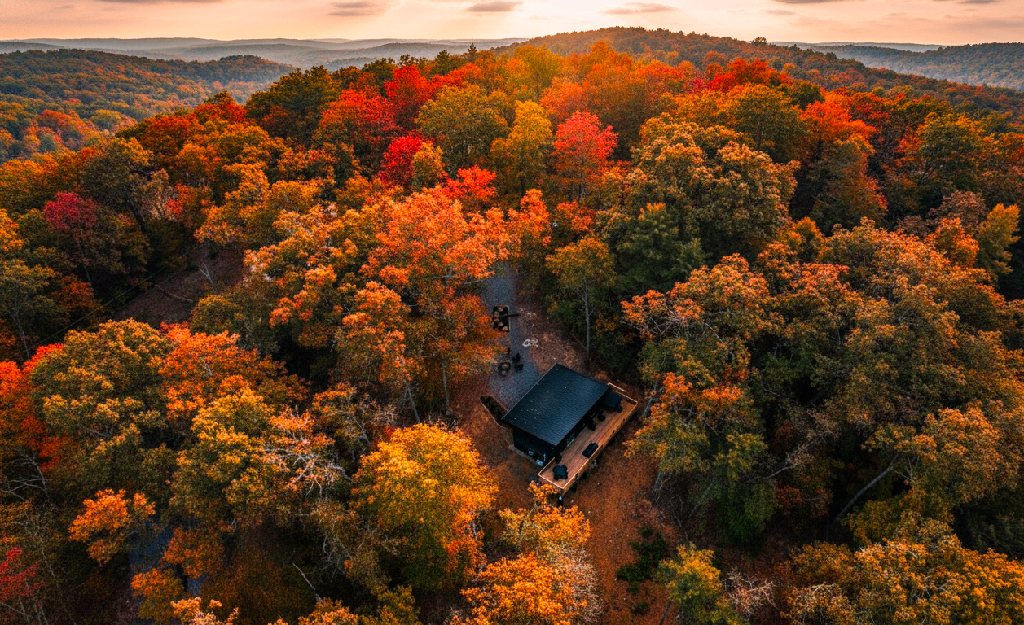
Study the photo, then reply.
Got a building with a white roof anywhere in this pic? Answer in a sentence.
No, no building with a white roof is visible in the scene.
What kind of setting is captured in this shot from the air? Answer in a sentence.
It's a forest.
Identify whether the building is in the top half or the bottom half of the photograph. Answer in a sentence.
The building sits in the bottom half of the picture.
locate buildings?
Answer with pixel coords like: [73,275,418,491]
[503,368,622,476]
